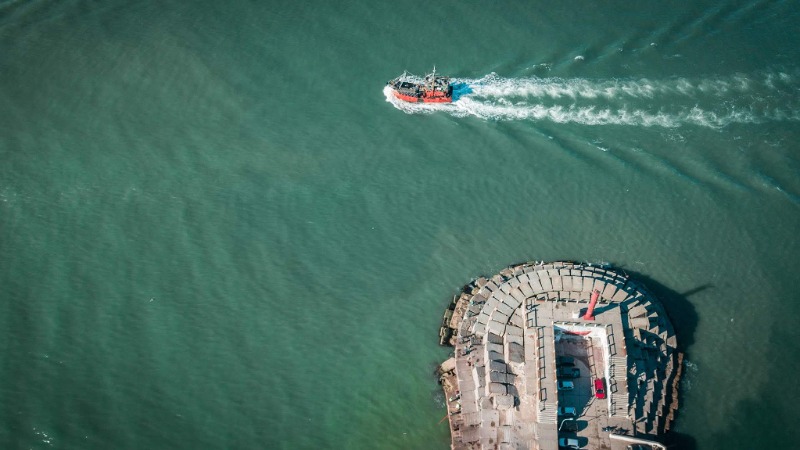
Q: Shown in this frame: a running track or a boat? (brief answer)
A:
boat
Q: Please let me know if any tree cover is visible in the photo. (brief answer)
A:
No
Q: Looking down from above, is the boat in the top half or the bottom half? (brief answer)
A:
top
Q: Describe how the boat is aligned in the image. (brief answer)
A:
from left to right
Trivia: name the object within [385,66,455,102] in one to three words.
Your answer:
boat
